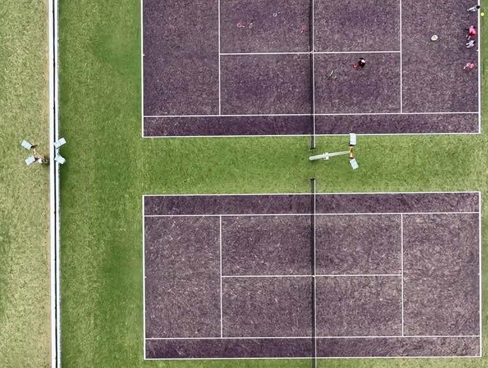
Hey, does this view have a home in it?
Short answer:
No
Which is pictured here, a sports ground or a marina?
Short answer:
sports ground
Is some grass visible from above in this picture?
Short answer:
Yes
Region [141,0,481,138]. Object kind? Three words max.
tennis court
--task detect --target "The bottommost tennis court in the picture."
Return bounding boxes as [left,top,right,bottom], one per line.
[143,192,482,361]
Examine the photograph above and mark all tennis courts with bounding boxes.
[143,192,482,361]
[141,0,481,138]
